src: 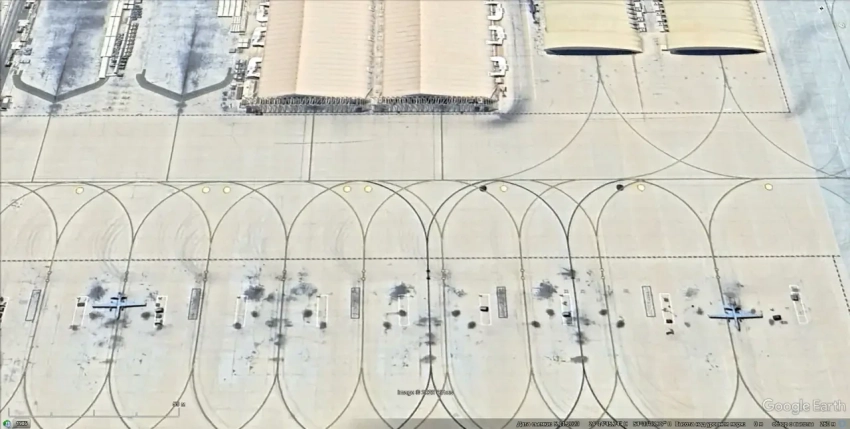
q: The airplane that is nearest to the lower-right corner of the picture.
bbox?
[709,303,764,331]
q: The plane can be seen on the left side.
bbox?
[90,290,147,319]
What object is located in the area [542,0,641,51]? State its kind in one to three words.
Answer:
hangar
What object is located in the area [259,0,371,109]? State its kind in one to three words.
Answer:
hangar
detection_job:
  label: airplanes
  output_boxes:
[709,303,764,331]
[90,290,147,319]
